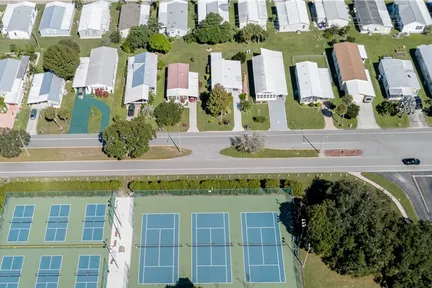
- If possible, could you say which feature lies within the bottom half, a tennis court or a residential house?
tennis court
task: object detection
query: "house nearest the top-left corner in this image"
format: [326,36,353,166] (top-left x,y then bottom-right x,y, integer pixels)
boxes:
[1,2,36,37]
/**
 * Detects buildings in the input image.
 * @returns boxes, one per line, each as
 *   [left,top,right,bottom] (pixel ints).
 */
[158,1,188,36]
[379,60,420,102]
[0,56,31,109]
[275,0,309,30]
[416,46,432,89]
[118,4,149,35]
[39,2,75,35]
[238,0,267,28]
[73,46,116,92]
[392,0,432,30]
[211,52,241,95]
[78,2,111,36]
[166,62,198,101]
[28,74,66,108]
[295,61,334,102]
[198,0,229,28]
[124,54,157,107]
[251,49,287,99]
[314,0,349,26]
[353,0,392,31]
[1,2,36,37]
[333,43,373,101]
